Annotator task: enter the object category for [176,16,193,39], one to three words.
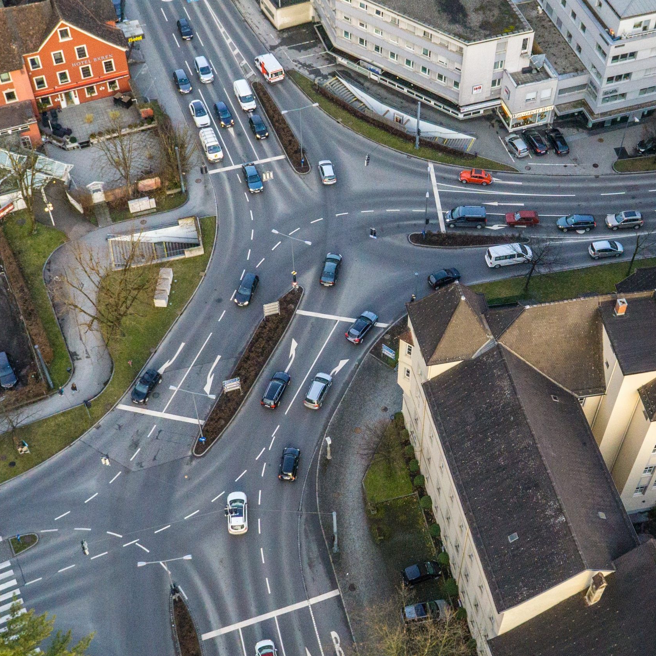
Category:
car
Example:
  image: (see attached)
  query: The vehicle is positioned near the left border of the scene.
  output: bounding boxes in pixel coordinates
[0,351,16,387]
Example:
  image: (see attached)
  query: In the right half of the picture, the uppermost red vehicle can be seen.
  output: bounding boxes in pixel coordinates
[458,170,494,187]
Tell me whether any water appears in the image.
No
